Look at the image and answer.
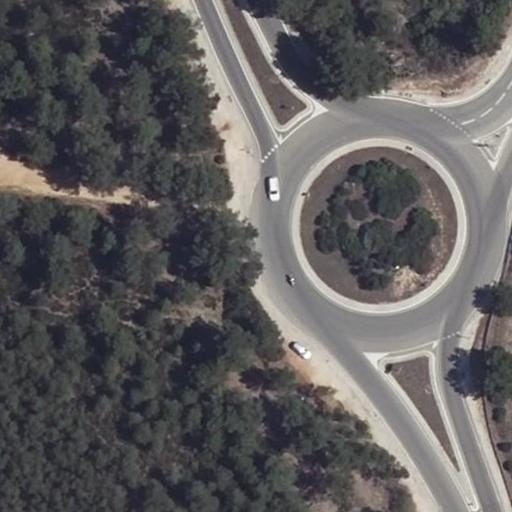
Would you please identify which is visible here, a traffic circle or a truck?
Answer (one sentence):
I can see a traffic circle in this picture.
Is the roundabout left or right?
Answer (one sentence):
You can find the roundabout on the right side of the picture.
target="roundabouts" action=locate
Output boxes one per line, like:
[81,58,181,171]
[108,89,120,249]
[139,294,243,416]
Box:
[252,98,506,352]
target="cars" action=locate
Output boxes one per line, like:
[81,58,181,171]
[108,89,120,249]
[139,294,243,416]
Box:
[269,177,280,202]
[292,341,313,360]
